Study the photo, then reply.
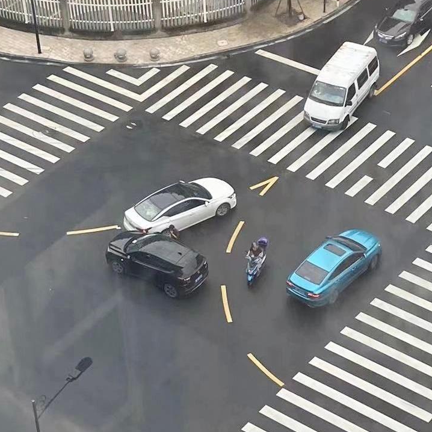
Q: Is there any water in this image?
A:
No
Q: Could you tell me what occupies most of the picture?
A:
paved ground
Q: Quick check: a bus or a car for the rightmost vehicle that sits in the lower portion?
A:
car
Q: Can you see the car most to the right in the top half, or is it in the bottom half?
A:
top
